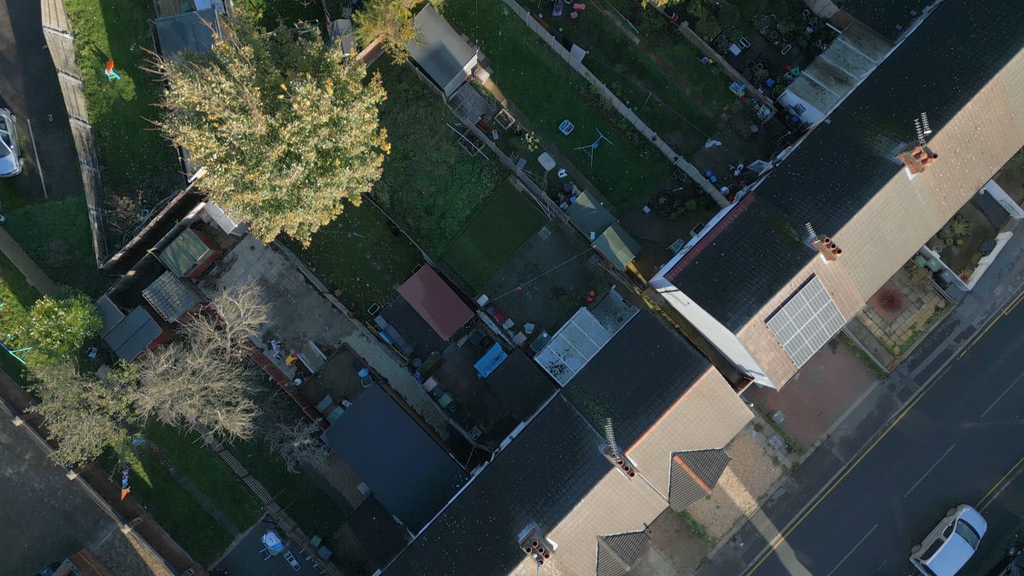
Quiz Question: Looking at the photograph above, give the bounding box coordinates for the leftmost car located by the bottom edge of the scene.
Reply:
[910,506,989,576]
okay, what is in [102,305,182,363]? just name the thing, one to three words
shed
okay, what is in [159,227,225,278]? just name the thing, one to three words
shed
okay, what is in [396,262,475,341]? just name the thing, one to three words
house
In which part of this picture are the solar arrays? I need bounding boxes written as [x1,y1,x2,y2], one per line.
[764,272,851,372]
